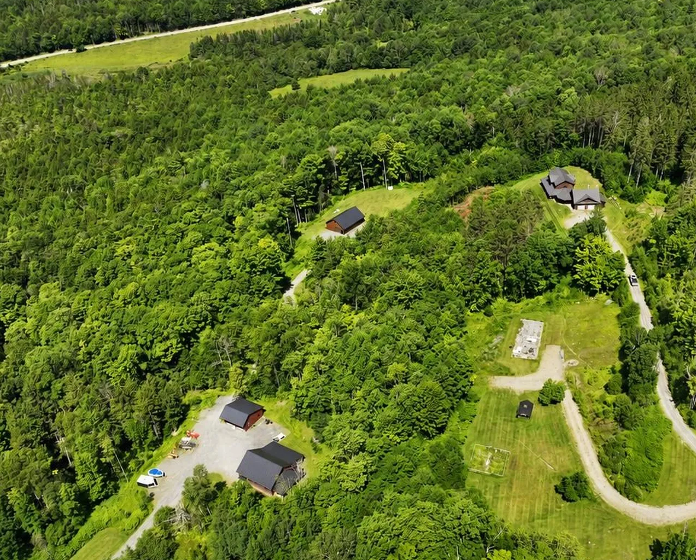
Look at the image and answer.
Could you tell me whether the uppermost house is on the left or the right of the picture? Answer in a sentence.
You can find the uppermost house on the right side of the picture.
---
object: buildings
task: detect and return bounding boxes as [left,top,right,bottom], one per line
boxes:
[540,172,607,210]
[236,441,305,497]
[218,399,265,436]
[327,207,365,236]
[518,401,532,423]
